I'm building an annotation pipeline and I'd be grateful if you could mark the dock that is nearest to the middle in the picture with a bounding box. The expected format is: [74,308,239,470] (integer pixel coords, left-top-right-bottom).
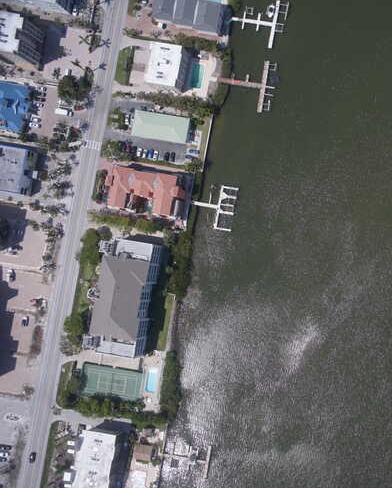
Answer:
[196,184,240,232]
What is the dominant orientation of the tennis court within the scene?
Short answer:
from left to right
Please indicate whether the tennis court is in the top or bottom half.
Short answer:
bottom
